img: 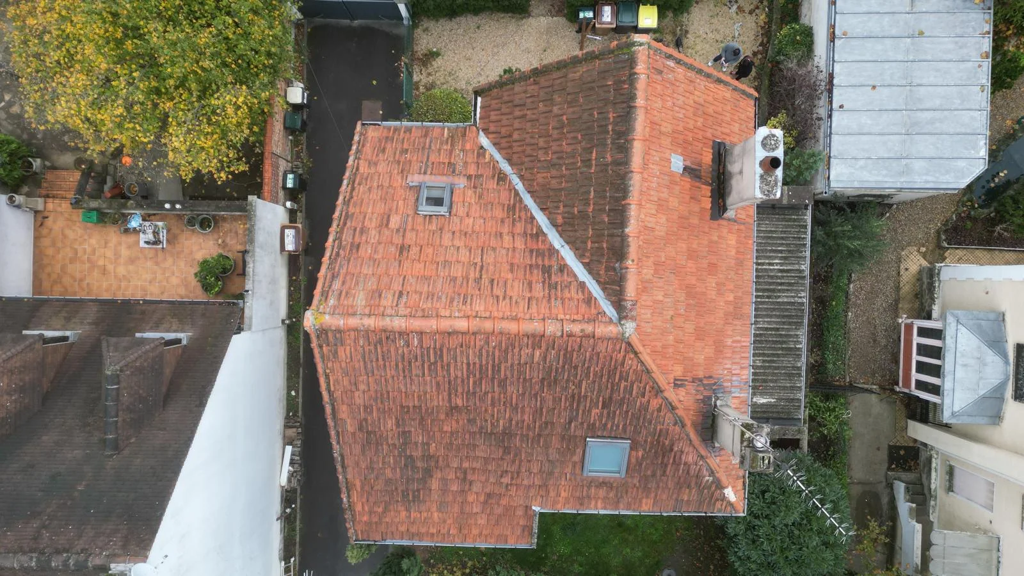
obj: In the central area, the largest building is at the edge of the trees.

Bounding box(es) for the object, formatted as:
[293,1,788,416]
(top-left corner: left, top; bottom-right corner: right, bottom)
[304,22,788,554]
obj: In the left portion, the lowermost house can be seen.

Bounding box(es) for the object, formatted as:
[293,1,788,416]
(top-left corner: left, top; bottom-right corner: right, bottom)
[0,292,285,576]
